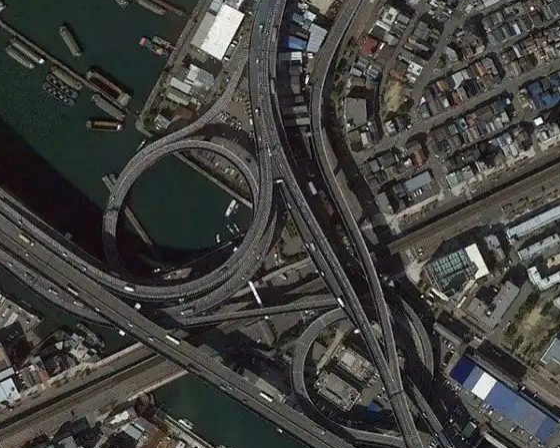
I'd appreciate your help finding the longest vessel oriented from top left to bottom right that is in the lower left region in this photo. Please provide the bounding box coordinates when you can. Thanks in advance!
[75,319,103,349]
